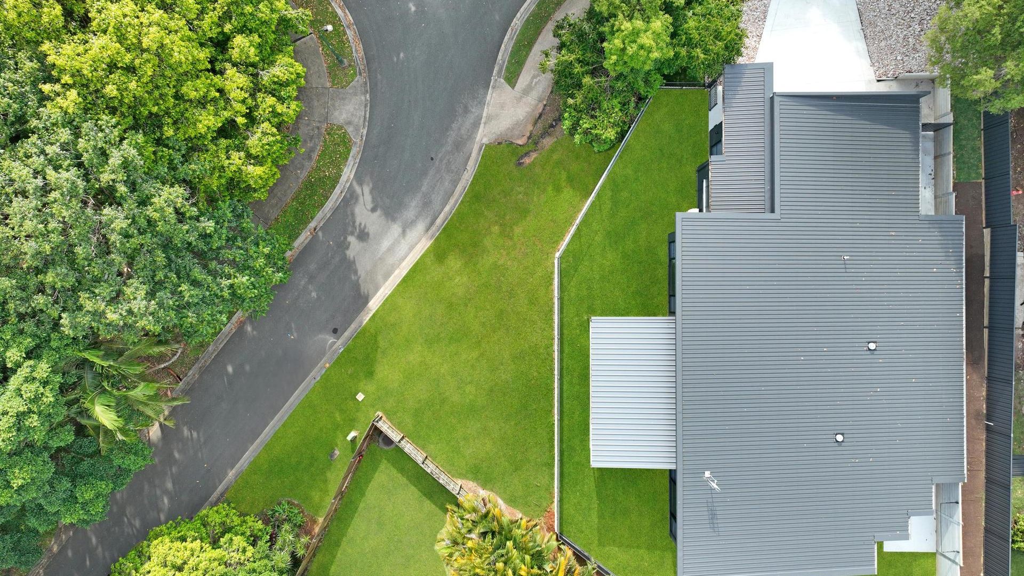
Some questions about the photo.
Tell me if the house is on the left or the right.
right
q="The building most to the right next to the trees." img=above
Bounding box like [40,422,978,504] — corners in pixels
[668,62,967,576]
